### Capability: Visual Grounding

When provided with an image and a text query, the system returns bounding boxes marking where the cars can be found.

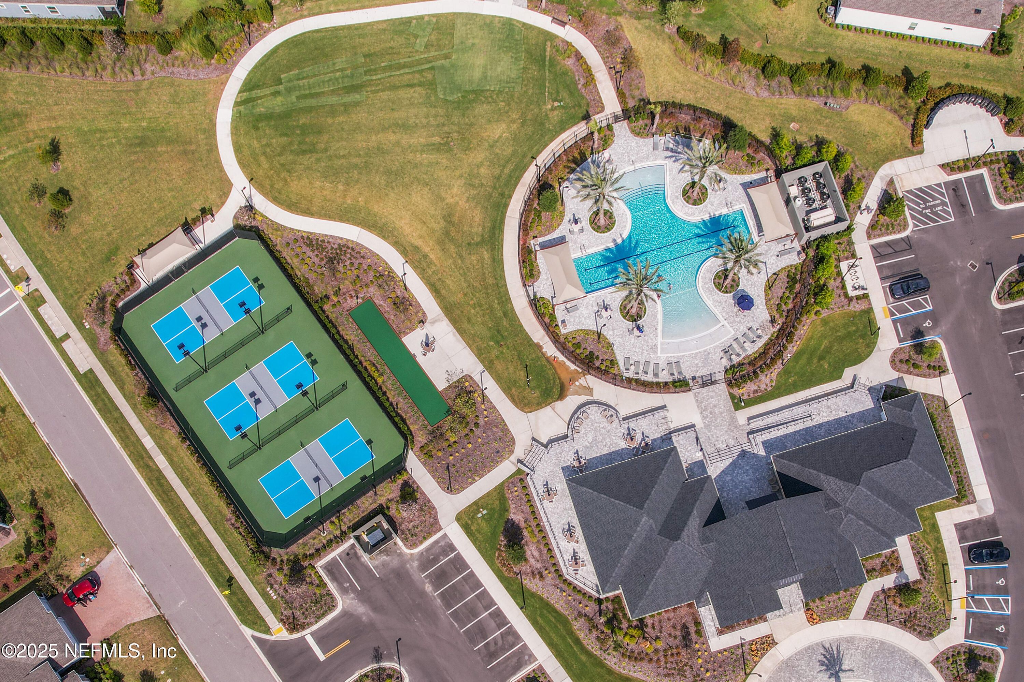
[61,577,101,608]
[968,546,1012,565]
[889,275,931,298]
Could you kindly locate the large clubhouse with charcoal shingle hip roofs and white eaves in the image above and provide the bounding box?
[565,392,959,629]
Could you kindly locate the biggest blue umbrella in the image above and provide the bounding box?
[737,294,754,311]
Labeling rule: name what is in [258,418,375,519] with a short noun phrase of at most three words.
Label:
sports court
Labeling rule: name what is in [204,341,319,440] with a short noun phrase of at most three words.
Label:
sports court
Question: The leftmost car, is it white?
No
